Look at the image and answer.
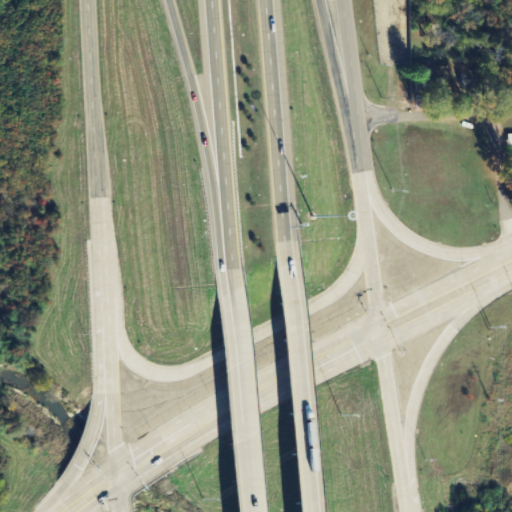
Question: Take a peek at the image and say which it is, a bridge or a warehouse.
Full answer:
I can see a bridge in this picture.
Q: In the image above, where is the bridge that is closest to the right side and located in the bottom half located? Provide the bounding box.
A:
[276,242,326,512]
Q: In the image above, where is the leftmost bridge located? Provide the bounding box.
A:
[214,268,268,512]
